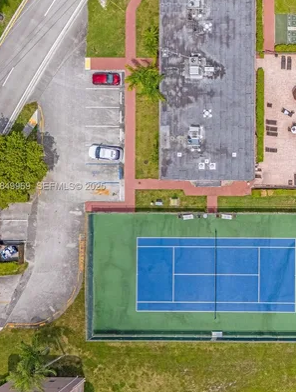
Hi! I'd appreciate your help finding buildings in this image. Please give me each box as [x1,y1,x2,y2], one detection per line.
[0,378,85,392]
[160,0,257,186]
